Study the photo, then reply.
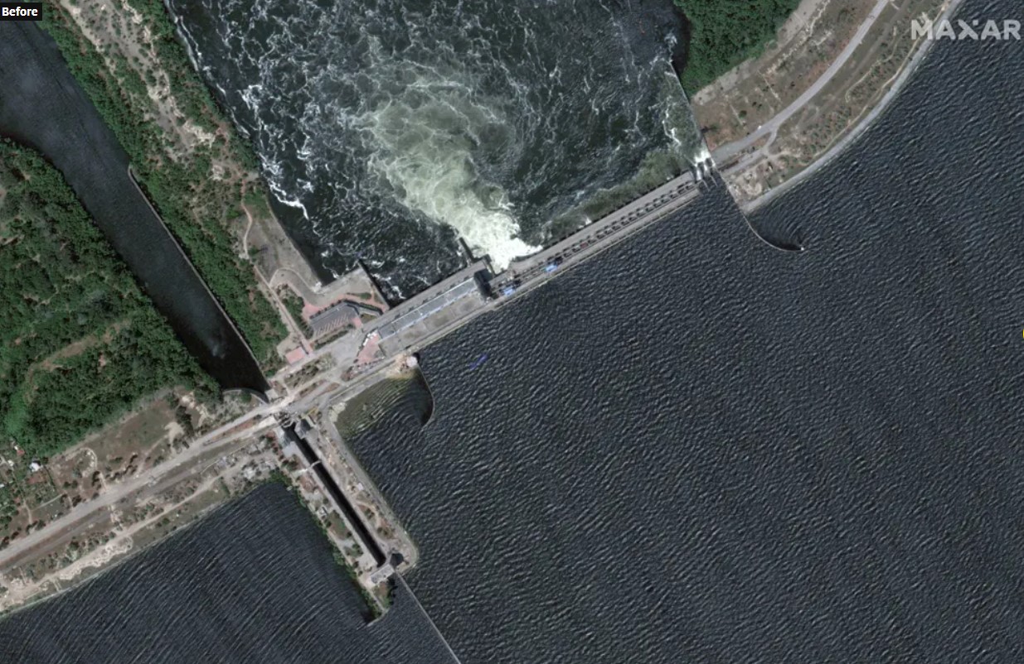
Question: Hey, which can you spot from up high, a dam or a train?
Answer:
dam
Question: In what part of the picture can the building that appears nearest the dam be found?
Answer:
center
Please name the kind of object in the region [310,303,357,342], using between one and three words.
building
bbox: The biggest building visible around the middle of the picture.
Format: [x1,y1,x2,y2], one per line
[378,257,509,366]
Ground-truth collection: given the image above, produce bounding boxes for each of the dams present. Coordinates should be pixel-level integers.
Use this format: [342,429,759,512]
[490,170,702,312]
